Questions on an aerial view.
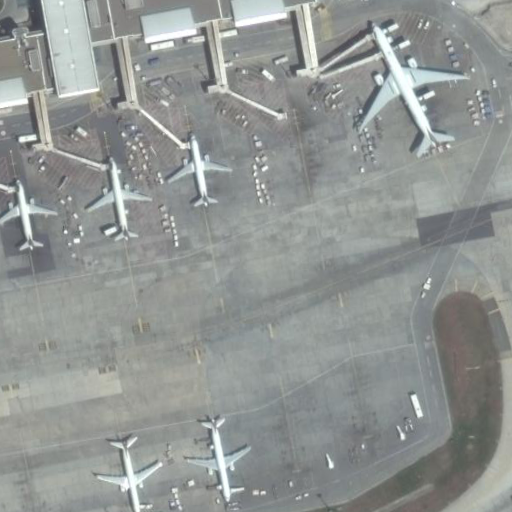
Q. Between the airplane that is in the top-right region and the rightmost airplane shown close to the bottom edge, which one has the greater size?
the airplane that is in the top-right region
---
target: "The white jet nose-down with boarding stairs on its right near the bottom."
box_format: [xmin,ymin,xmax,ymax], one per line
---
[186,418,252,502]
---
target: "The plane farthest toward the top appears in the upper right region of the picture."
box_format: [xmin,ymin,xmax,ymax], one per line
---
[358,24,468,156]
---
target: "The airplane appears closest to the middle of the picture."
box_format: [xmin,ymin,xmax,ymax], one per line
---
[168,134,234,206]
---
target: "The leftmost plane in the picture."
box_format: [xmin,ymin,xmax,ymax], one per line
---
[0,180,57,251]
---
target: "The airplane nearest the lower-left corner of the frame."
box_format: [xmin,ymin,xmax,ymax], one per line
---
[98,436,164,512]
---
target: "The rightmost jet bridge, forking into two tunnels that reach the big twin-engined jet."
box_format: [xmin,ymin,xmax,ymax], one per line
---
[296,3,384,78]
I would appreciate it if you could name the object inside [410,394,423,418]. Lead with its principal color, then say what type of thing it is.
white vehicle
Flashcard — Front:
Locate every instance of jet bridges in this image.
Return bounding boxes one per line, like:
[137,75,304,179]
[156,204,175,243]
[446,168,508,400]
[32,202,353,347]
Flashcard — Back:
[0,182,16,194]
[116,38,189,151]
[33,92,108,170]
[206,20,286,120]
[296,3,384,78]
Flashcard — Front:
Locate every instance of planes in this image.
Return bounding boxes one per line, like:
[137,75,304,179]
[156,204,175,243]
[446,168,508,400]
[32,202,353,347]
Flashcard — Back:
[358,24,468,156]
[168,134,234,206]
[98,436,164,512]
[186,418,252,502]
[0,180,57,251]
[87,158,153,240]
